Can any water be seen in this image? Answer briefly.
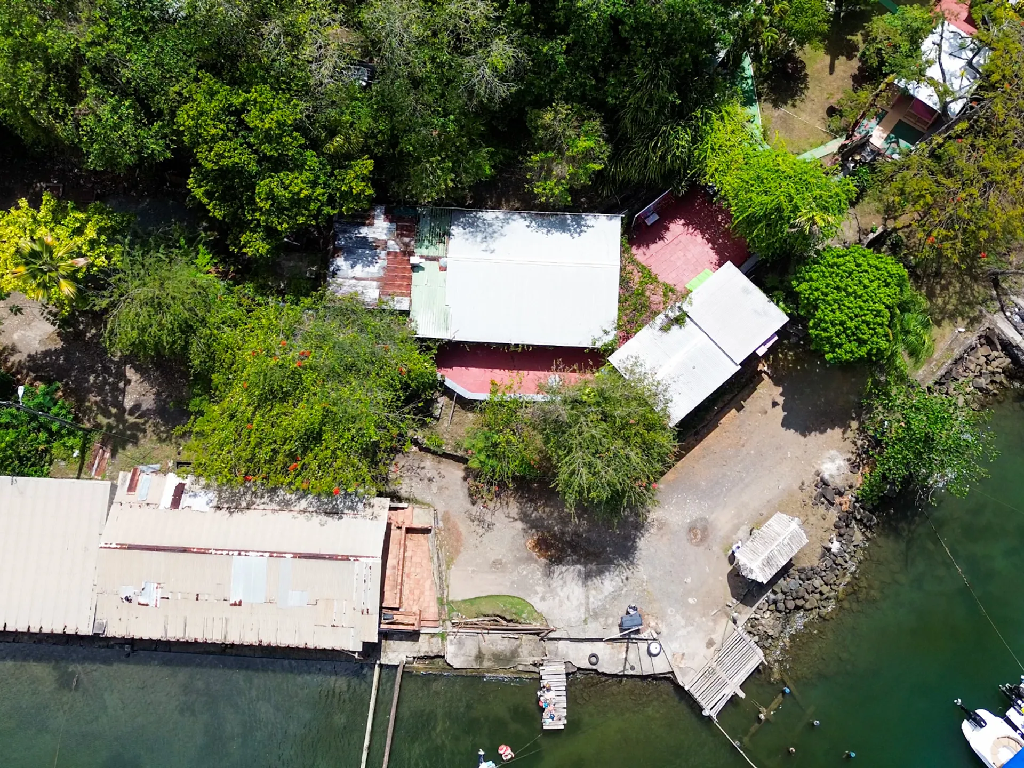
Yes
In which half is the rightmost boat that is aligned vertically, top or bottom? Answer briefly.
bottom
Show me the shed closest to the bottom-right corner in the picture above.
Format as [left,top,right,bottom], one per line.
[728,512,807,583]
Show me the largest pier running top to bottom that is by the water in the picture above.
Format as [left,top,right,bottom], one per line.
[540,658,567,729]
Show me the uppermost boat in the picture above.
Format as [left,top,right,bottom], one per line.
[999,675,1024,728]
